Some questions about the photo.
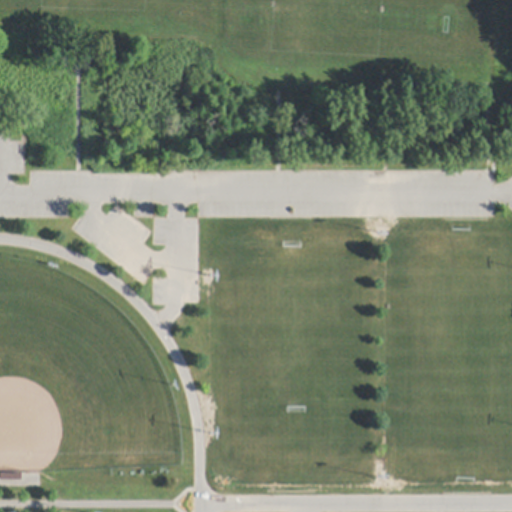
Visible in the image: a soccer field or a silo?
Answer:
soccer field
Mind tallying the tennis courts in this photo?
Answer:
zero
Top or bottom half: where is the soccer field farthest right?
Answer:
bottom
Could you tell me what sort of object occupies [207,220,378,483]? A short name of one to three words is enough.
soccer field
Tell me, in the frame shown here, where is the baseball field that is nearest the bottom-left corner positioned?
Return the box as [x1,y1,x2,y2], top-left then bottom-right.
[0,254,183,470]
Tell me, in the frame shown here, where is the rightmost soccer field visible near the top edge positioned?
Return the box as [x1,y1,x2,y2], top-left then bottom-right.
[270,0,470,56]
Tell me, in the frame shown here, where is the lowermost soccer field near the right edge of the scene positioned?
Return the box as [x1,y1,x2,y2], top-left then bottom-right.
[386,220,512,483]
